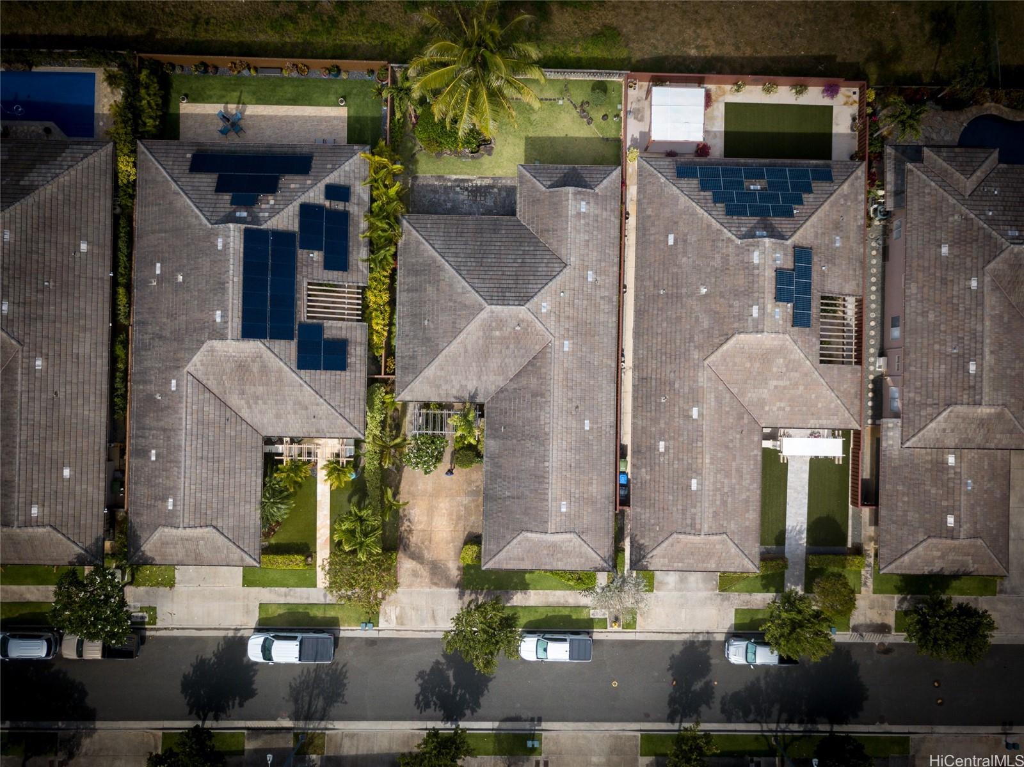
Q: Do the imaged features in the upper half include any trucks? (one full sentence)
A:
No, looking in the upper half, there is no truck.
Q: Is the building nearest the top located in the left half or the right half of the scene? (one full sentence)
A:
The building nearest the top sits on the right side.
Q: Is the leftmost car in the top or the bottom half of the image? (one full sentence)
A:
The leftmost car is in the bottom half of the image.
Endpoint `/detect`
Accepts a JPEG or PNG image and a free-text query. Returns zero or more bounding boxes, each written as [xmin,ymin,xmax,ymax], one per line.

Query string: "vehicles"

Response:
[723,632,800,669]
[0,627,62,664]
[249,627,337,667]
[518,628,592,666]
[64,629,146,666]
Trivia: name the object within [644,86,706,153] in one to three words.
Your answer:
building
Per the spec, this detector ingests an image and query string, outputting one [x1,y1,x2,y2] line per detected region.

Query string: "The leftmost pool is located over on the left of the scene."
[0,67,99,141]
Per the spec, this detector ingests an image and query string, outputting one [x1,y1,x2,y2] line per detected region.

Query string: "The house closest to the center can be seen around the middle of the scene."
[395,163,623,572]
